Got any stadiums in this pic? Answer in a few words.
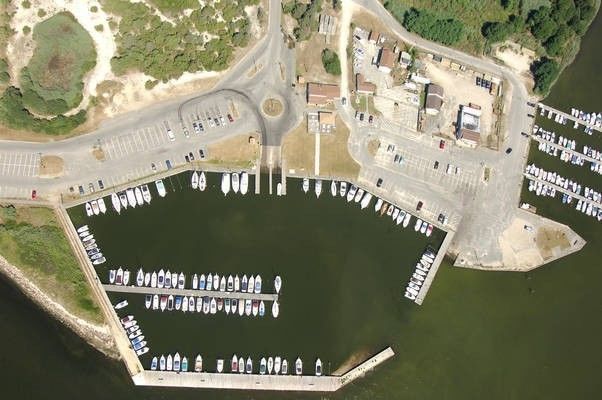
No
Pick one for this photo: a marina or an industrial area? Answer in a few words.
marina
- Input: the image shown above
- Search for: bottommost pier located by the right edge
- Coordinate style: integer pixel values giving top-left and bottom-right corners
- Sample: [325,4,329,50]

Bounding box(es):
[523,172,602,209]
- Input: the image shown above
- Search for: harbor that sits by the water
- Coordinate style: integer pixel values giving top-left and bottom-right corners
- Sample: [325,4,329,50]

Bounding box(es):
[56,106,587,374]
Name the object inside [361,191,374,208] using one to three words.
boat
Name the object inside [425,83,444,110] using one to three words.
house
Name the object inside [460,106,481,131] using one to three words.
building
